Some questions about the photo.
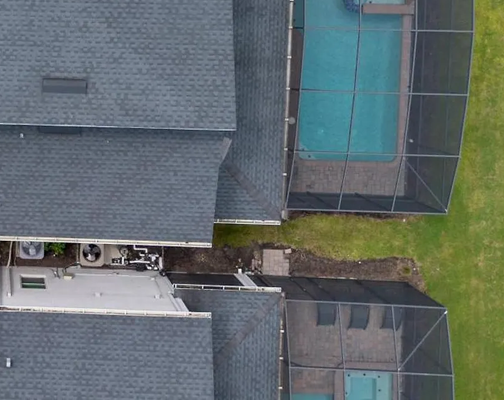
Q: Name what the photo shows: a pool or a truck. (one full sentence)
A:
There is a pool in the scene.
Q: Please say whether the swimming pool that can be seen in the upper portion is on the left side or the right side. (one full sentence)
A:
The swimming pool that can be seen in the upper portion sits on the right side.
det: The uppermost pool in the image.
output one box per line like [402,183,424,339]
[295,0,415,169]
